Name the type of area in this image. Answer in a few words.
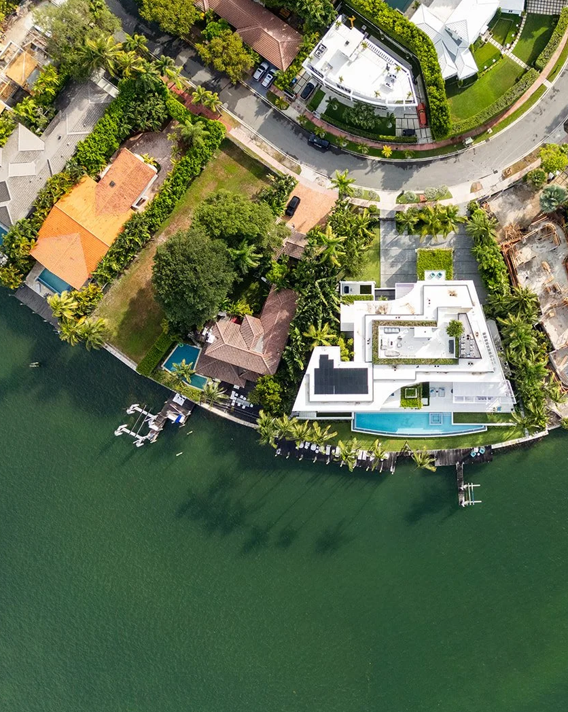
residential area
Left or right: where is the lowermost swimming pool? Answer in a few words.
right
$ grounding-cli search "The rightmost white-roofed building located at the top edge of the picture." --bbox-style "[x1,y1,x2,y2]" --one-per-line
[409,0,524,83]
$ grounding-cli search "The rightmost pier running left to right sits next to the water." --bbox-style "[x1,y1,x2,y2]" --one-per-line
[435,446,493,466]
